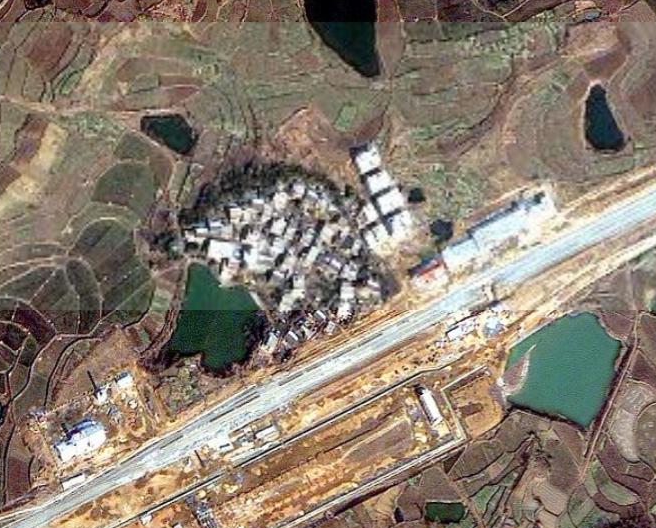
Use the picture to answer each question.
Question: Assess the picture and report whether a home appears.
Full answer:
Yes, this view includes a home.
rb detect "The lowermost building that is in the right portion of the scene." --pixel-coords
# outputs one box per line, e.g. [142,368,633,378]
[420,391,443,424]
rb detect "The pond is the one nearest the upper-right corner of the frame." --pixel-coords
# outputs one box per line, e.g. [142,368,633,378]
[586,84,624,150]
